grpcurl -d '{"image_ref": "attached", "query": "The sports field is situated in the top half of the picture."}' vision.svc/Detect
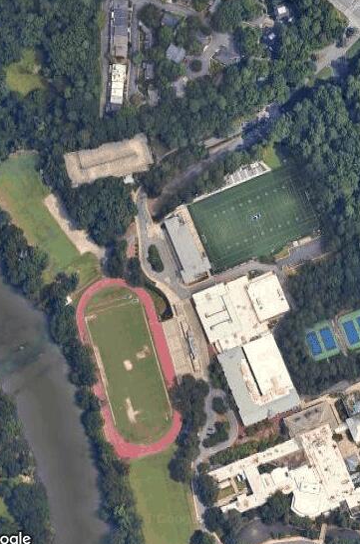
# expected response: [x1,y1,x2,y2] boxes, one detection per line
[186,160,324,271]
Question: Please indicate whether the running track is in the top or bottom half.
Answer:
bottom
